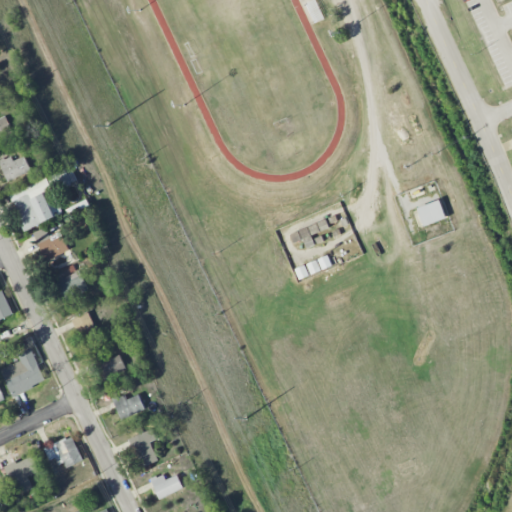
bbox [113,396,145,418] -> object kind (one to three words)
house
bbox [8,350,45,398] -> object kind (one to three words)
house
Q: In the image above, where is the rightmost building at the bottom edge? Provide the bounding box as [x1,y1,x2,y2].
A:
[150,474,180,500]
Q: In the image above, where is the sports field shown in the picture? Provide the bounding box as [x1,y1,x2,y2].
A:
[157,0,339,176]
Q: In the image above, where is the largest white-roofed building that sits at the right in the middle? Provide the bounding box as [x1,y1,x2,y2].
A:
[416,198,448,227]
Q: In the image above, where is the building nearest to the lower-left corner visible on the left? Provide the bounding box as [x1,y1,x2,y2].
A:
[5,453,34,482]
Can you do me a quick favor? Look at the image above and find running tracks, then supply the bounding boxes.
[150,0,344,182]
